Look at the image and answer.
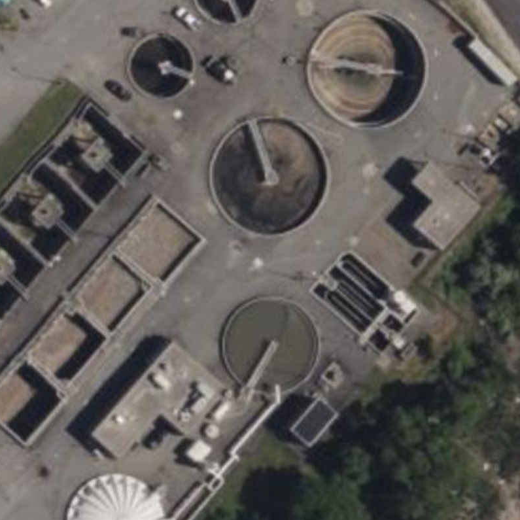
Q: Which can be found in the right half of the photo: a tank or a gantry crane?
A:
tank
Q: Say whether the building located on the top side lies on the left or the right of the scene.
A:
right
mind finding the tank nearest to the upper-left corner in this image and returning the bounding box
[129,34,194,99]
